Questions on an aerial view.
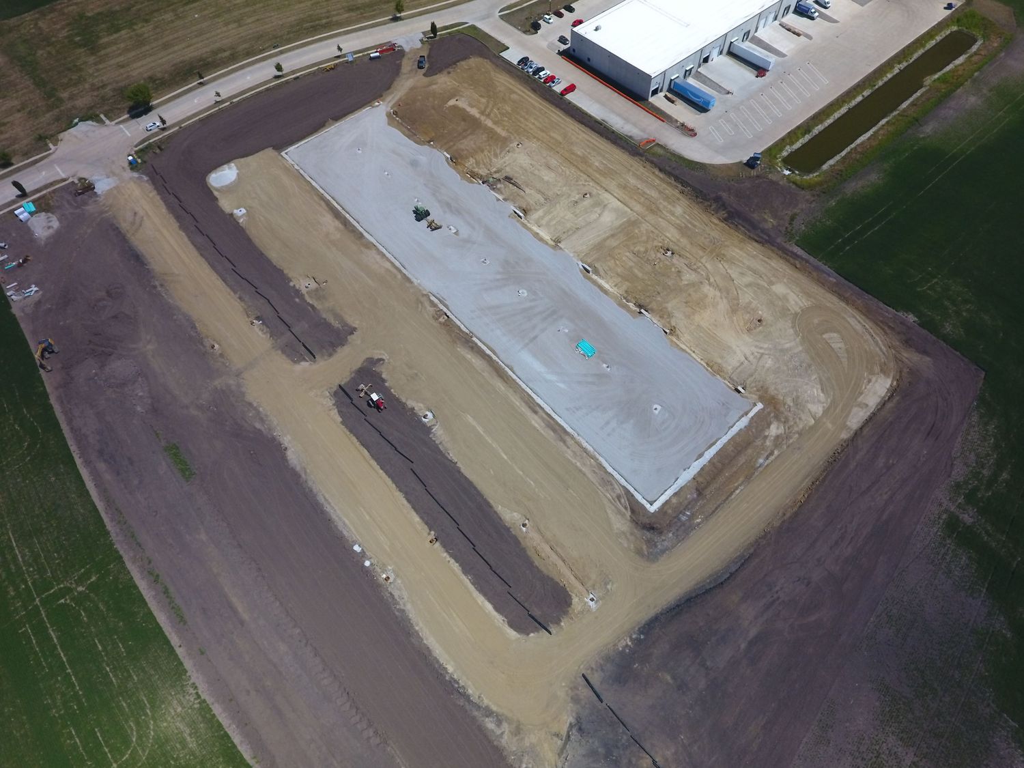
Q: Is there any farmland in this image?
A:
Yes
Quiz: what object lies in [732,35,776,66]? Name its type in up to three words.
trailer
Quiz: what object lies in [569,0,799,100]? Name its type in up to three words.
building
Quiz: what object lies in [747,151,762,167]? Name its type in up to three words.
vehicle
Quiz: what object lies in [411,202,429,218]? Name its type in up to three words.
work vehicle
